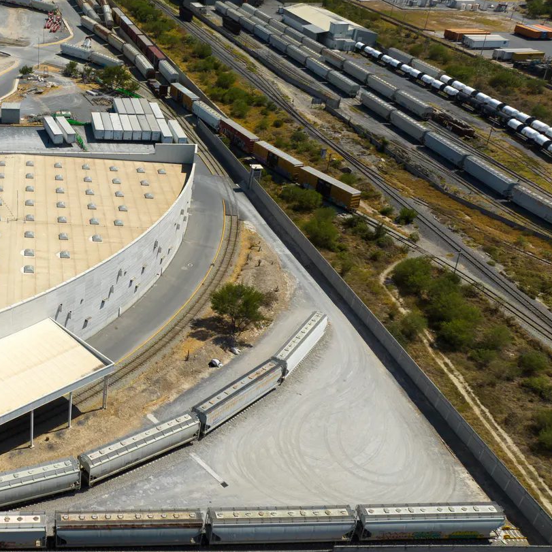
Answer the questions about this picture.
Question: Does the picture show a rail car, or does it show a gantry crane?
rail car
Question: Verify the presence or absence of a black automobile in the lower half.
No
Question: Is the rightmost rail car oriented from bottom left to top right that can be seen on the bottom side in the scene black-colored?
No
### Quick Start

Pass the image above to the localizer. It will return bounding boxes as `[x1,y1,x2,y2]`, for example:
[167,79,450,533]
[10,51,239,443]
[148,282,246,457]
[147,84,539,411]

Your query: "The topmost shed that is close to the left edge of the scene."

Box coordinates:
[1,102,20,123]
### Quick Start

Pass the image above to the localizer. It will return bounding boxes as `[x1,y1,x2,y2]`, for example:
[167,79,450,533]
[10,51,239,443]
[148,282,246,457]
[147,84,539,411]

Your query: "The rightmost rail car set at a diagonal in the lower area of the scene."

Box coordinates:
[274,310,333,381]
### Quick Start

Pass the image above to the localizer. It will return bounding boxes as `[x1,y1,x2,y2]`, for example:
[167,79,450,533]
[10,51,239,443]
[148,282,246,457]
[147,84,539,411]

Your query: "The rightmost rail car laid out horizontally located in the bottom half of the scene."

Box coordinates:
[353,500,509,542]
